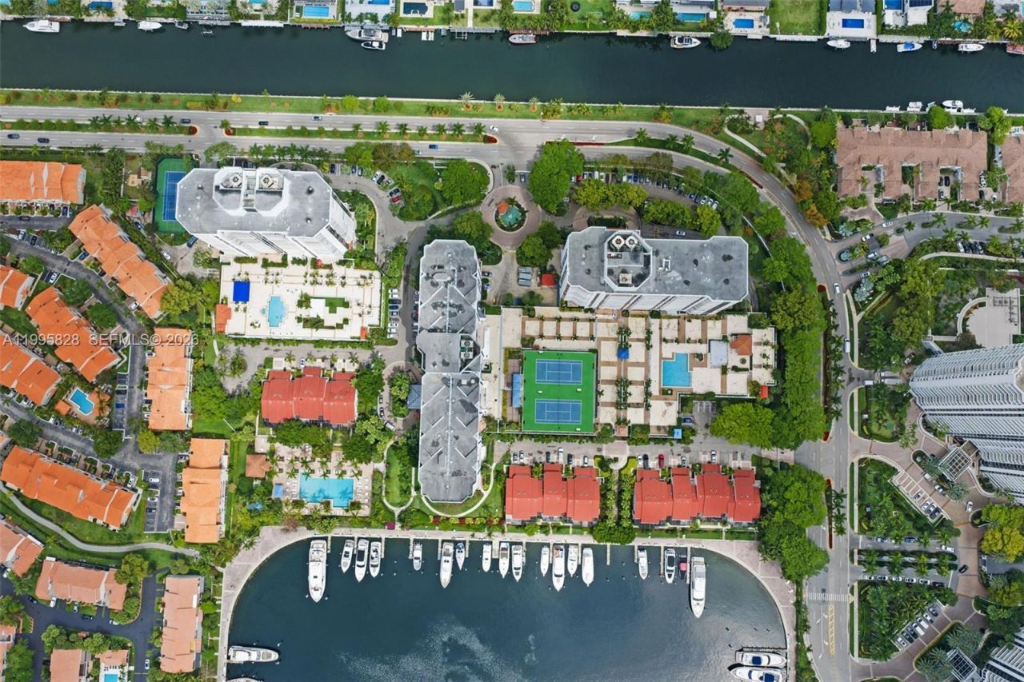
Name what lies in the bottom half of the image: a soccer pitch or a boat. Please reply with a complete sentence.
It is a boat that can be seen in the bottom half of the image.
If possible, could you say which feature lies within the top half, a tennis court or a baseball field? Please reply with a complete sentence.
The feature located within the top half is a tennis court.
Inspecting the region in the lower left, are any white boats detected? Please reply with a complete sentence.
Yes, I can see a white boat in the lower left.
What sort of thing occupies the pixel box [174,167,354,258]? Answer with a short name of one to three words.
building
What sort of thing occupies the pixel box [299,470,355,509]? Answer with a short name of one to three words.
swimming pool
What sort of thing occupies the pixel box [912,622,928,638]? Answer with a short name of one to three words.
vehicle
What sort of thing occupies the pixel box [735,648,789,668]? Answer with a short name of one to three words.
boat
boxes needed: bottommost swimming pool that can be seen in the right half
[662,353,693,387]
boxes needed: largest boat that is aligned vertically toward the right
[691,556,706,620]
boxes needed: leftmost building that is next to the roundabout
[415,239,484,374]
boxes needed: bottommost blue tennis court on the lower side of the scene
[535,399,581,425]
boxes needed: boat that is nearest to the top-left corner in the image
[21,20,62,32]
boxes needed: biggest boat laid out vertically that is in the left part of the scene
[308,540,326,604]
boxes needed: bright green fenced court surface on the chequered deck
[522,350,598,434]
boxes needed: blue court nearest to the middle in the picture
[536,360,582,384]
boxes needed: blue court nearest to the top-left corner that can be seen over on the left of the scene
[163,171,188,221]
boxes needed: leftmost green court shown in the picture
[155,156,195,232]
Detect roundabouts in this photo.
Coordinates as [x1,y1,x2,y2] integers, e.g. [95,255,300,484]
[480,187,541,247]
